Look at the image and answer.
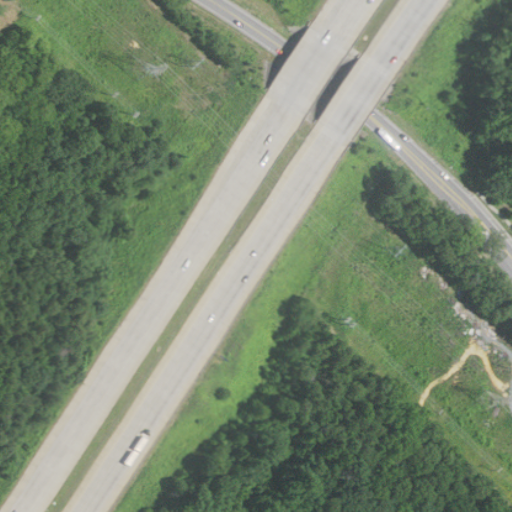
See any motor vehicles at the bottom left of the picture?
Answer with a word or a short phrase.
Yes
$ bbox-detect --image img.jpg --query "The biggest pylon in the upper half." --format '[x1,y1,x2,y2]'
[144,62,169,80]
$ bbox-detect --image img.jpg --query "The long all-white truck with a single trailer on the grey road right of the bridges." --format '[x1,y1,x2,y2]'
[374,126,400,151]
